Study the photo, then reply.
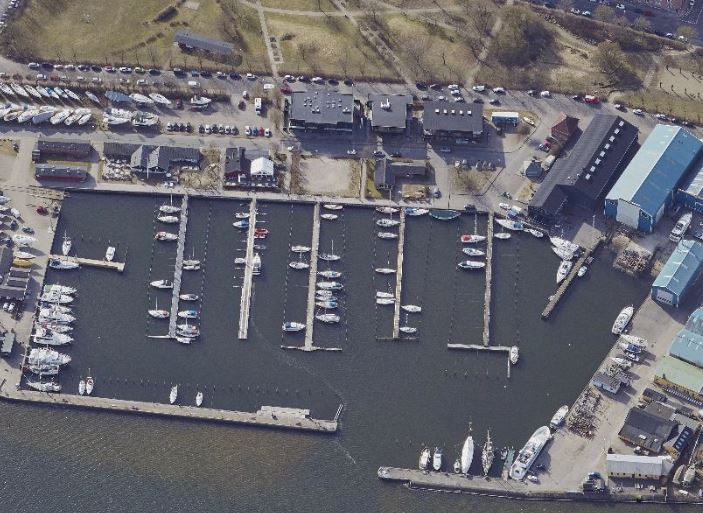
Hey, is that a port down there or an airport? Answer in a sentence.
This image shows a port.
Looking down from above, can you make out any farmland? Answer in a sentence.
No, the picture contains no farmland.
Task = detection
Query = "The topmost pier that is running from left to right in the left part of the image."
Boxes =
[49,254,125,271]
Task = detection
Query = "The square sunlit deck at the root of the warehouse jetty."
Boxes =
[573,222,602,254]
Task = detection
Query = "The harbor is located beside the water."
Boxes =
[0,186,703,498]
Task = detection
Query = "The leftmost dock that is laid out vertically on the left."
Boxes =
[169,195,188,337]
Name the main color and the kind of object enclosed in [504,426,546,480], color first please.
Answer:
white ship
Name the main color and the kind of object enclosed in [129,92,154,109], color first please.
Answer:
white boat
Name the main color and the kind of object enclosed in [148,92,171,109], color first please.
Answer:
white boat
